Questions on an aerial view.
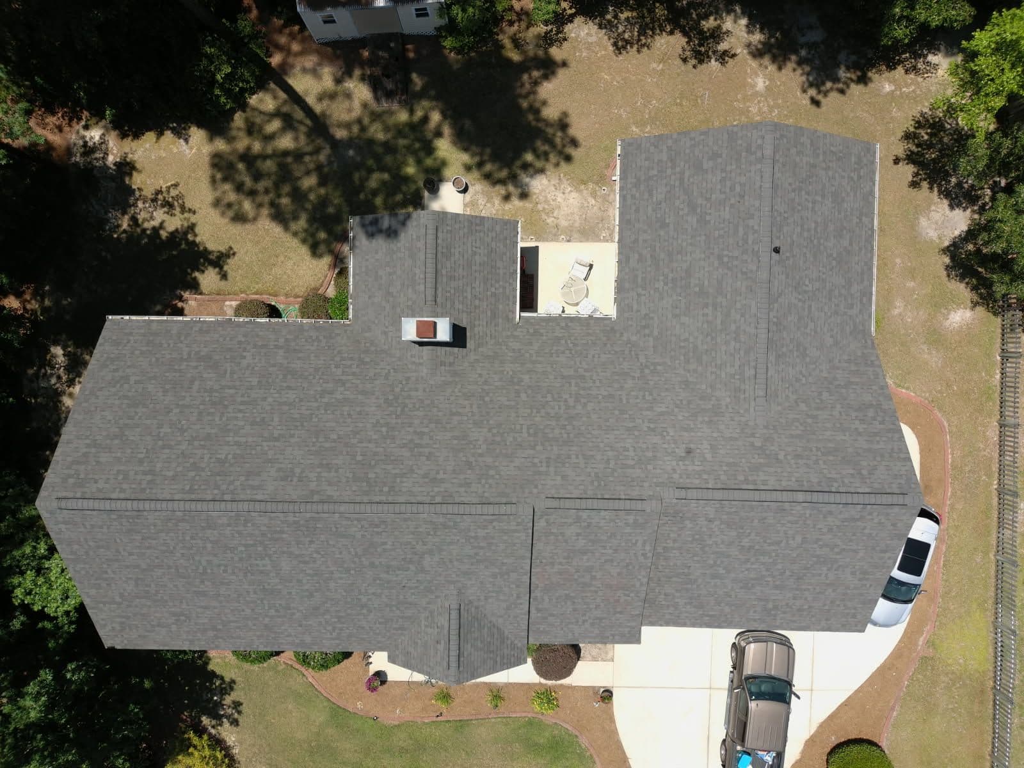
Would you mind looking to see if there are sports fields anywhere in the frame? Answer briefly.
No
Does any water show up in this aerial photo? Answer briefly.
No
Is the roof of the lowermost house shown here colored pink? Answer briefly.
No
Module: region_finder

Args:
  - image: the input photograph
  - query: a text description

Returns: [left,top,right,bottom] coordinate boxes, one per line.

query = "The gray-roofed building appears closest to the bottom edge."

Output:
[36,121,922,684]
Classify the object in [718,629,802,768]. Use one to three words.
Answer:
truck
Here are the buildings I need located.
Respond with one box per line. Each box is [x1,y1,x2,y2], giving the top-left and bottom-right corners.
[291,0,448,44]
[36,121,922,684]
